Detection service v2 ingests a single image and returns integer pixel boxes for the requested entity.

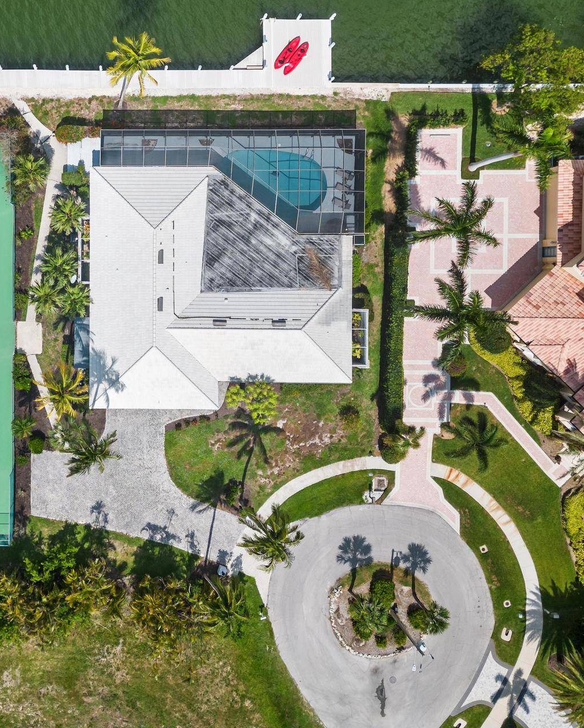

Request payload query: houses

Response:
[89,166,353,409]
[499,160,584,449]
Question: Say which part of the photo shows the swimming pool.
top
